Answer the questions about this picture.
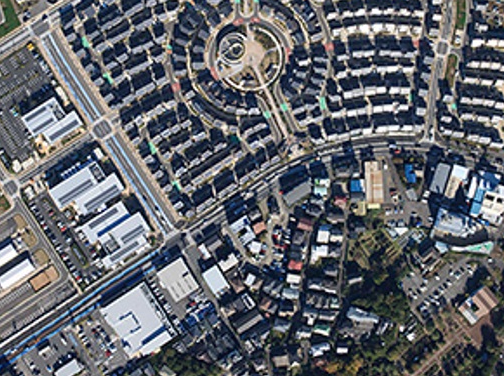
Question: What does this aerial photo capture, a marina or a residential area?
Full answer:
This looks like a residential area.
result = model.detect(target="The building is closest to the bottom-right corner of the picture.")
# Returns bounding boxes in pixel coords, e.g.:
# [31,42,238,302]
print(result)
[458,283,500,326]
